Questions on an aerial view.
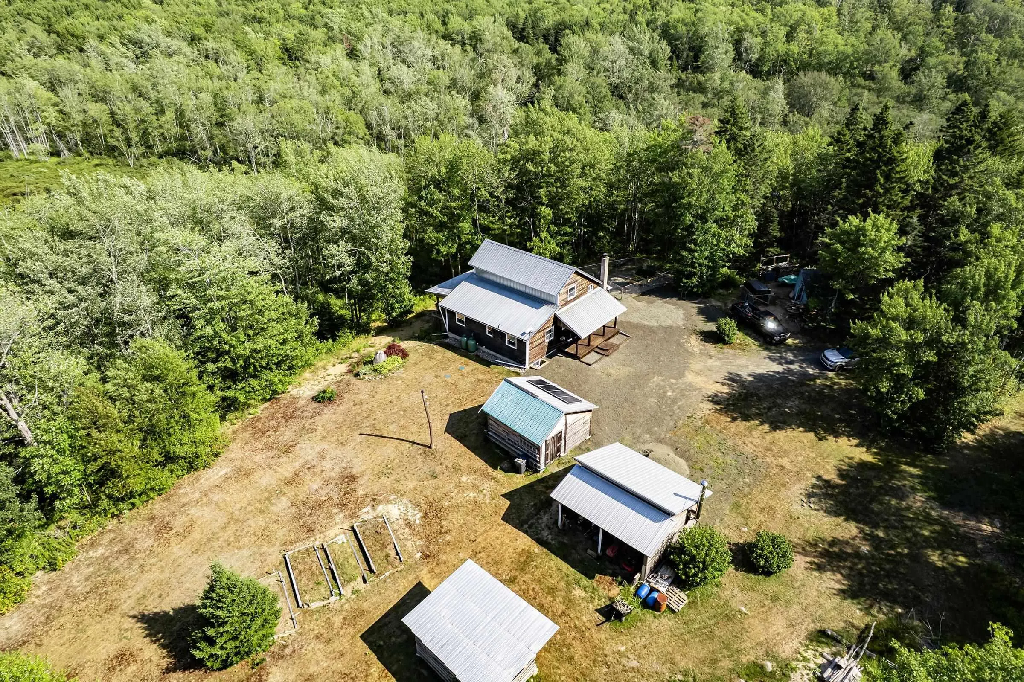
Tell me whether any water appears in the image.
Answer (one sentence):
No, the scene doesn't show any water.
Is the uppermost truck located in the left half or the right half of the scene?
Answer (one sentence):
It is on the right.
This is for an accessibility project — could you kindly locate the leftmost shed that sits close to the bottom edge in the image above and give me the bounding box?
[397,558,559,682]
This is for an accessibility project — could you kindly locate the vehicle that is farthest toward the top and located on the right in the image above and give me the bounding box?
[730,303,789,342]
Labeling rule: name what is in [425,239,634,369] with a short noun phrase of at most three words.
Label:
house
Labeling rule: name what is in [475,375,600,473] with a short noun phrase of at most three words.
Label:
shed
